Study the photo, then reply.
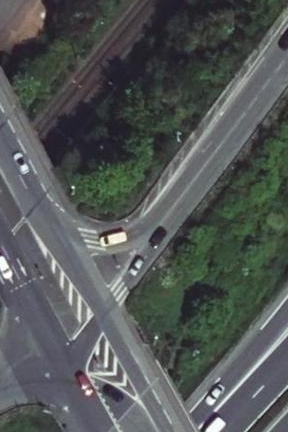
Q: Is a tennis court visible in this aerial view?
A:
No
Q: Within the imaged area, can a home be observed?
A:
No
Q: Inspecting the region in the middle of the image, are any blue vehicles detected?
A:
No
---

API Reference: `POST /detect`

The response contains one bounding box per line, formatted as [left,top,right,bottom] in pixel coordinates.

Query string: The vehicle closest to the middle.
[148,226,166,248]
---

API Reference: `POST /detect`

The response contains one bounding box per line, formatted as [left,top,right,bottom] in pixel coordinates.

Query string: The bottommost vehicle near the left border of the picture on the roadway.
[0,254,12,278]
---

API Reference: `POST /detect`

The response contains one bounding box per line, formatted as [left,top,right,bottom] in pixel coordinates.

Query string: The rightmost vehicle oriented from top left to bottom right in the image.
[102,384,124,402]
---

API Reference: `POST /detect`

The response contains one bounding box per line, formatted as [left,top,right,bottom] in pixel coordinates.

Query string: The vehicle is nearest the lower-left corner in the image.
[78,373,94,396]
